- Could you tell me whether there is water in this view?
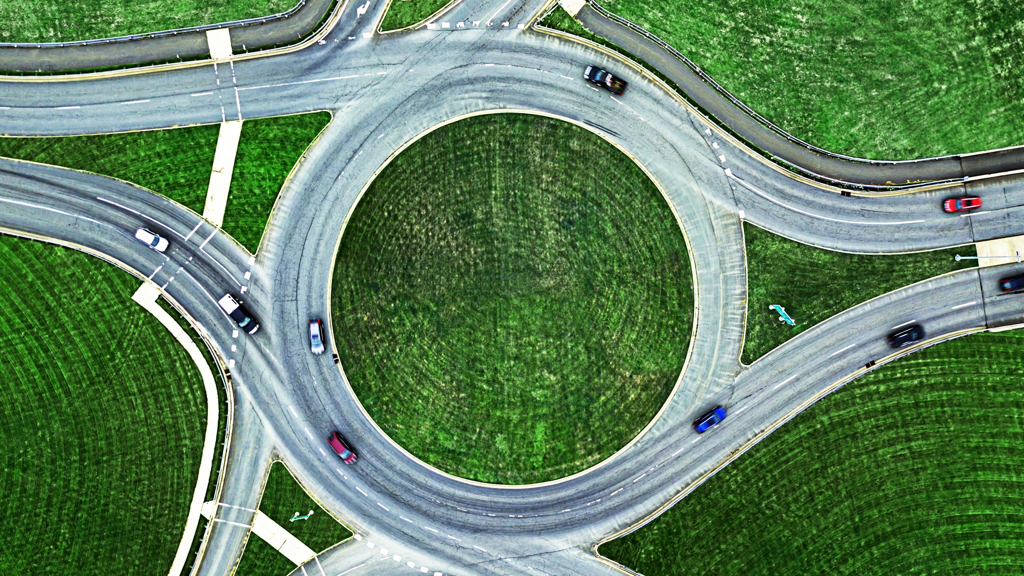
No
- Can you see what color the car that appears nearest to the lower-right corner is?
black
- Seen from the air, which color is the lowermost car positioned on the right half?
blue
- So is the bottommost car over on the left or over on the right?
left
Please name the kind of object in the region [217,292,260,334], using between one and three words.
truck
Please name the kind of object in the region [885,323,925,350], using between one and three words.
car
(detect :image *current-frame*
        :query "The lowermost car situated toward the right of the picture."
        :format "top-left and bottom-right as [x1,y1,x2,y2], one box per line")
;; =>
[691,404,728,435]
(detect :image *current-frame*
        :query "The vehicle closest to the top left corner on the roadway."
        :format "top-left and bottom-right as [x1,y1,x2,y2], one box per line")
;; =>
[132,225,171,254]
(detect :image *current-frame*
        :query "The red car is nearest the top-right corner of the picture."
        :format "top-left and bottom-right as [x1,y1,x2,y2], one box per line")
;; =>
[944,195,982,213]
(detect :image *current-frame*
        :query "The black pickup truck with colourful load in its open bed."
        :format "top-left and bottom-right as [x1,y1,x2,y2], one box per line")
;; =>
[584,65,629,96]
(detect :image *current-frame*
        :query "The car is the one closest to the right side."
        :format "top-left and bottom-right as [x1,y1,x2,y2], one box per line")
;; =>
[999,272,1024,292]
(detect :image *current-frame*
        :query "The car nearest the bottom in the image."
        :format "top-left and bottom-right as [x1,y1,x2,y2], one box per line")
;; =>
[325,432,357,464]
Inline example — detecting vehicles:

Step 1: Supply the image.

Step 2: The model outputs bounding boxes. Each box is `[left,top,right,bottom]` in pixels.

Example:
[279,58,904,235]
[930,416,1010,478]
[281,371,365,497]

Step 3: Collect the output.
[325,432,357,464]
[132,225,171,254]
[944,195,982,213]
[307,318,326,354]
[885,323,925,350]
[999,272,1024,292]
[691,404,728,435]
[584,65,629,96]
[217,292,260,334]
